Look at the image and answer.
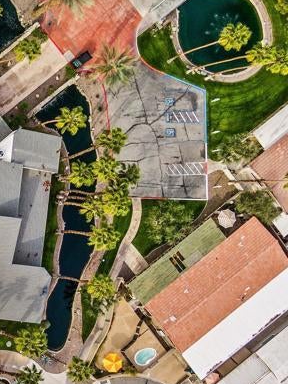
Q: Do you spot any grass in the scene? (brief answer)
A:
Yes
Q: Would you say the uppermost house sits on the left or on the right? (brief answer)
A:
right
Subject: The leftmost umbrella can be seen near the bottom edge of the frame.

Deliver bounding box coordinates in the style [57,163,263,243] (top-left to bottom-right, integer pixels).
[100,352,119,371]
